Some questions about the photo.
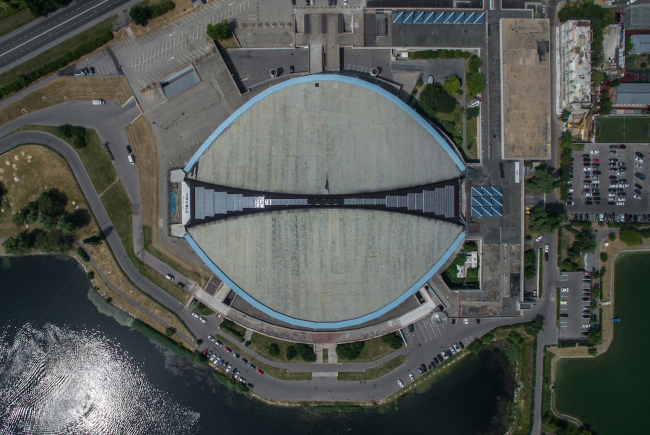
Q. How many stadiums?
1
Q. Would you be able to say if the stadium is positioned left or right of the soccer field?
on its left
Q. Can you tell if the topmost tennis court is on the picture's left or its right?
right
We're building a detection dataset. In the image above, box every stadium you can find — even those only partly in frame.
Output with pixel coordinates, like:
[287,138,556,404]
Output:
[171,74,468,329]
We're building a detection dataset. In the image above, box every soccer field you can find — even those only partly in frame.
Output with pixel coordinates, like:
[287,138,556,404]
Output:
[593,114,650,143]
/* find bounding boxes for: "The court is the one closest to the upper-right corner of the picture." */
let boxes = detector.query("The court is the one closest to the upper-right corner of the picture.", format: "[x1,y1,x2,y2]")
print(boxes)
[621,2,650,31]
